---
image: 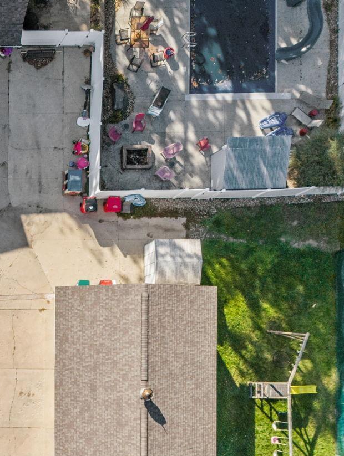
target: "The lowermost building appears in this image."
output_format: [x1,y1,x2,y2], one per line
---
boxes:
[53,283,216,456]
